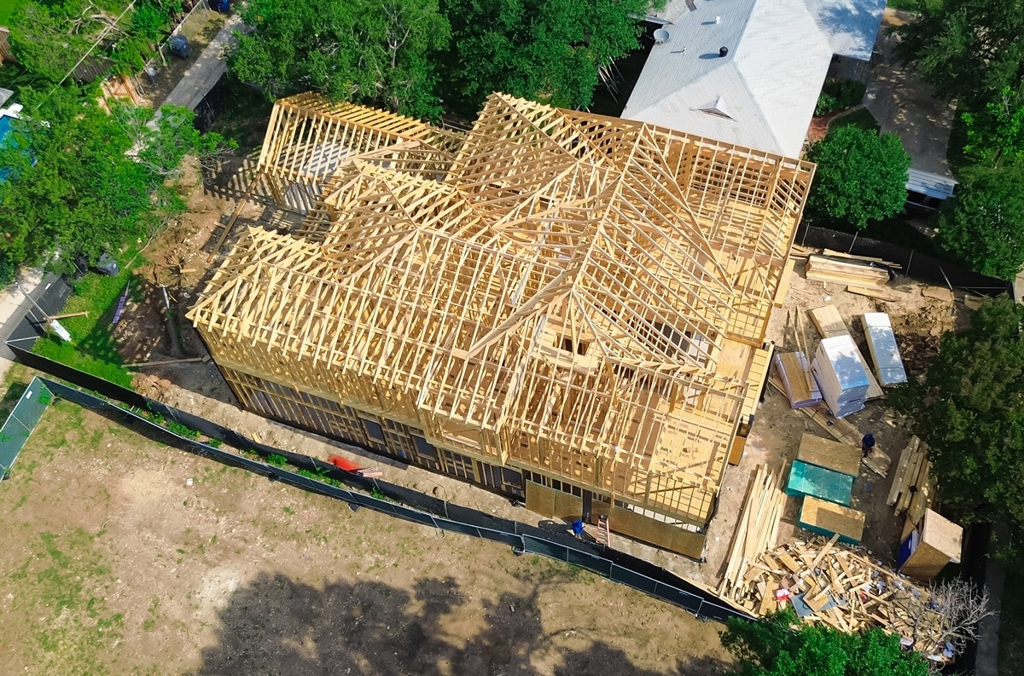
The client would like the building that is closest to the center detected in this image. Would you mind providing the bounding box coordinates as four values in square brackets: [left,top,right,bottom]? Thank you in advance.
[185,87,819,566]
